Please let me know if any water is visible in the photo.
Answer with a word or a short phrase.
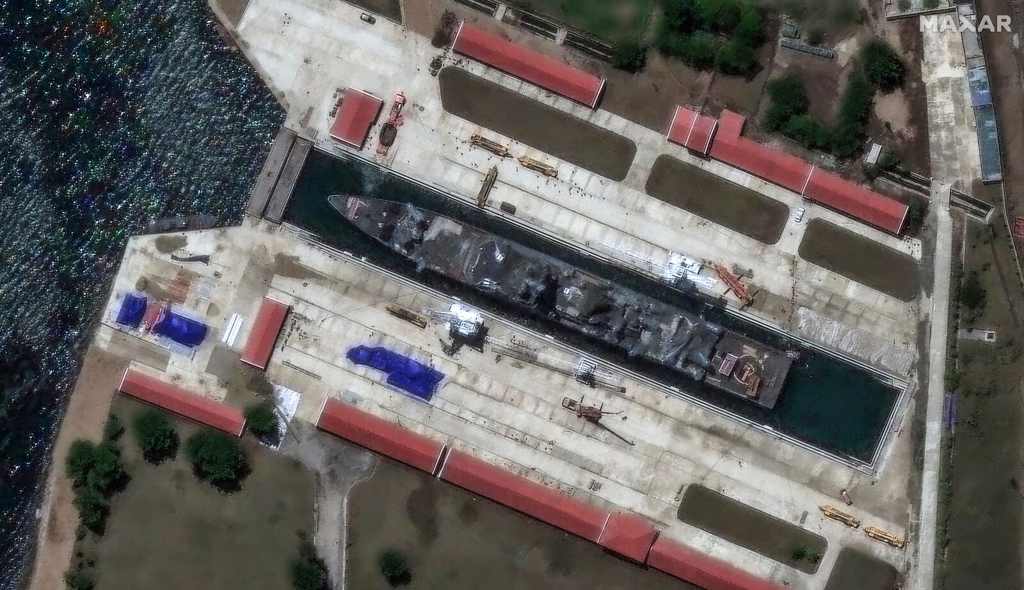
Yes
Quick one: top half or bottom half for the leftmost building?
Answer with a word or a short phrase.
bottom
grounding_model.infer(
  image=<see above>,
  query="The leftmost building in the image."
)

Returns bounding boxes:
[120,368,245,436]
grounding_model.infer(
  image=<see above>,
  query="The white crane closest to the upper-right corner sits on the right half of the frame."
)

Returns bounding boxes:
[663,244,718,287]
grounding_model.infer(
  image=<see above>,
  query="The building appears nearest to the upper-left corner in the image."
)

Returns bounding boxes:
[330,87,383,147]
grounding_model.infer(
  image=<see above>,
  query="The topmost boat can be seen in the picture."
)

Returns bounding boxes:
[379,122,396,144]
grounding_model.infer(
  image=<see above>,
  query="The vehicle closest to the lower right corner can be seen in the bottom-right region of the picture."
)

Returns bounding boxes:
[840,489,852,505]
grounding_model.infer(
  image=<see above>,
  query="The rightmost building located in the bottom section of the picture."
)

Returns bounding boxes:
[648,533,794,590]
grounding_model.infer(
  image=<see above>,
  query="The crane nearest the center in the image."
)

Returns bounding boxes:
[426,300,487,340]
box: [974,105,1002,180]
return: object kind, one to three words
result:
shed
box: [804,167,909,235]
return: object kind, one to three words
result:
building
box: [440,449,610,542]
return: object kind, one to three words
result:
building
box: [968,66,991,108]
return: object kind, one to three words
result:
shed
